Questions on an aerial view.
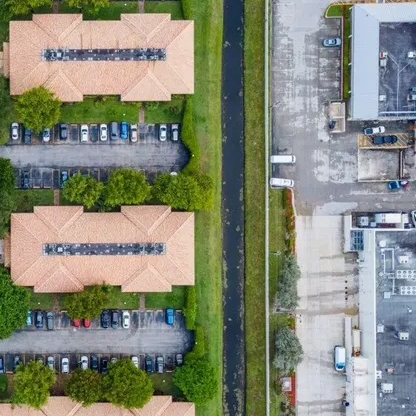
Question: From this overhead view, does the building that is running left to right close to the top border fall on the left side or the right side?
left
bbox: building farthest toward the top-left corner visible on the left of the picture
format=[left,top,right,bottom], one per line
[3,13,194,103]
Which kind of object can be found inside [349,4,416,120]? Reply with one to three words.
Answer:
building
